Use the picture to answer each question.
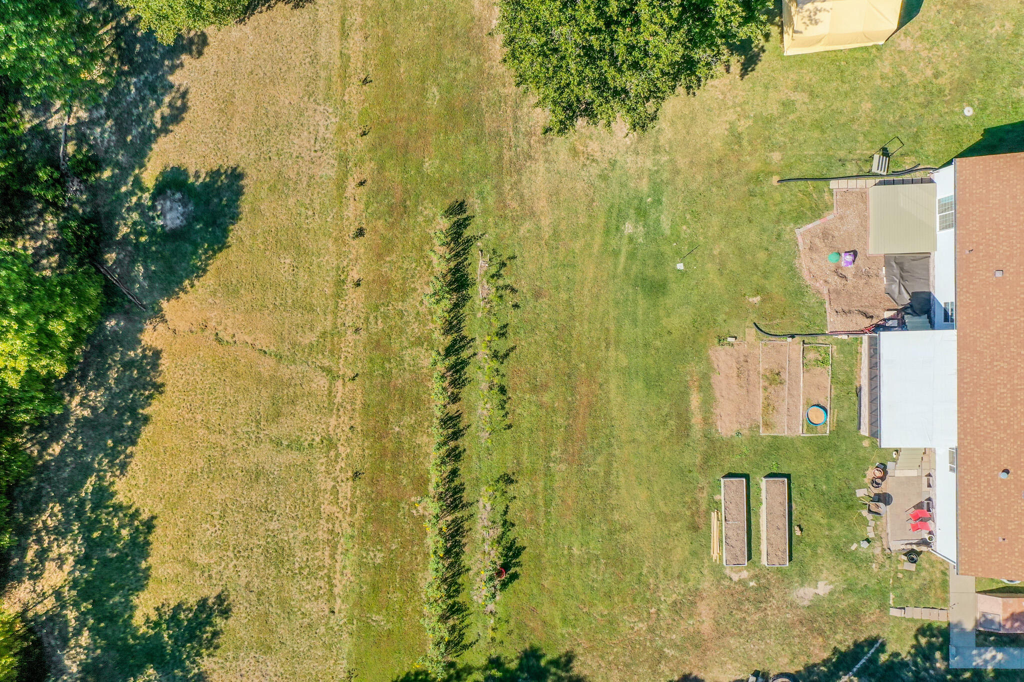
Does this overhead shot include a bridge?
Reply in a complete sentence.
No, no bridge can be seen from above.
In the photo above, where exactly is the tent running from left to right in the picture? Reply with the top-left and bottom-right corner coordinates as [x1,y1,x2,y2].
[782,0,905,54]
